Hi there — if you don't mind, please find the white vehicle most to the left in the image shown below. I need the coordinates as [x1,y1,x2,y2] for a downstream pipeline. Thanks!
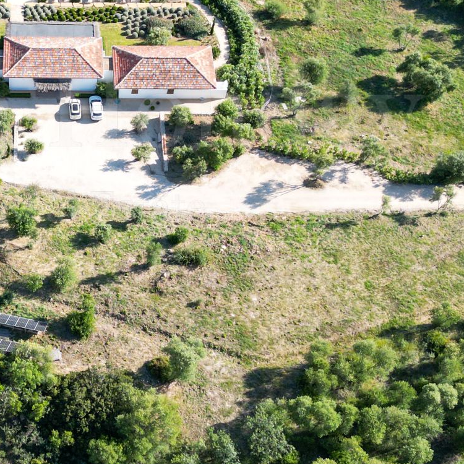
[67,100,82,122]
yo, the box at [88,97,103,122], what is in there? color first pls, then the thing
white car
